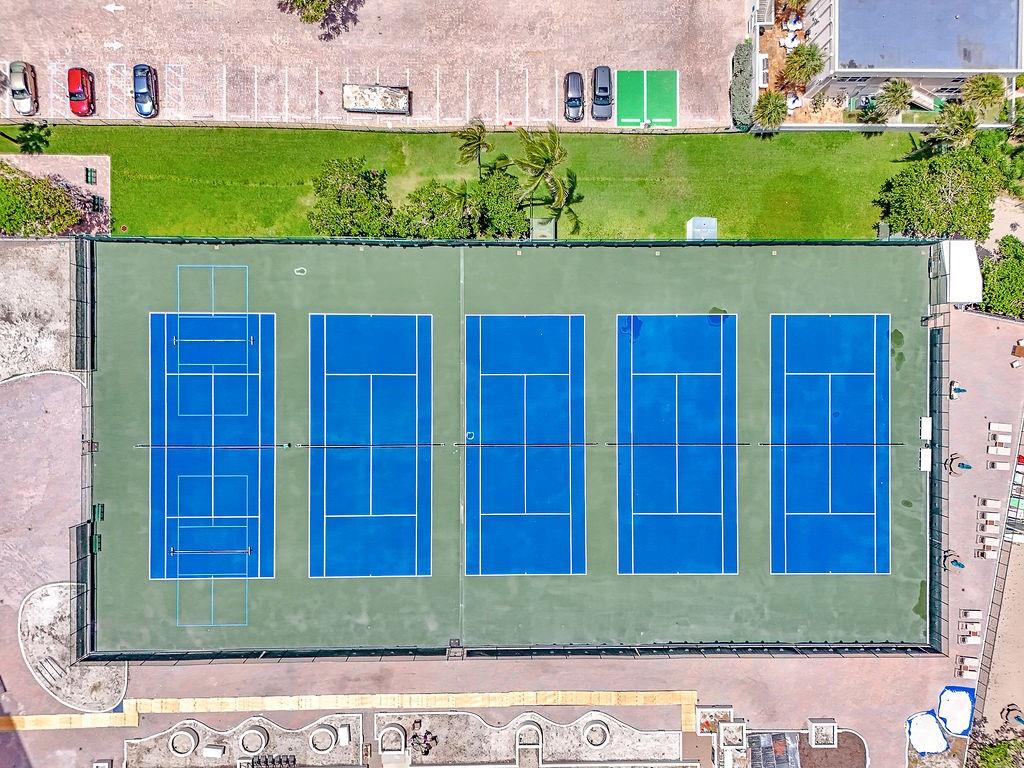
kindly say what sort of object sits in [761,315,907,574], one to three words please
tennis court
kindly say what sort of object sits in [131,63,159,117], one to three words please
car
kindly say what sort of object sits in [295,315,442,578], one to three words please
tennis court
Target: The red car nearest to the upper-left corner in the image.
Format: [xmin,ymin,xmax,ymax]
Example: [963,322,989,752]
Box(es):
[66,65,95,116]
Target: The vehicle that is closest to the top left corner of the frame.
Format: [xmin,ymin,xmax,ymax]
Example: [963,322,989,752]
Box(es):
[7,59,37,115]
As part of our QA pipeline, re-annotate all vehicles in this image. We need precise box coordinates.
[591,65,615,121]
[66,65,95,116]
[563,70,586,123]
[7,59,37,115]
[131,63,159,117]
